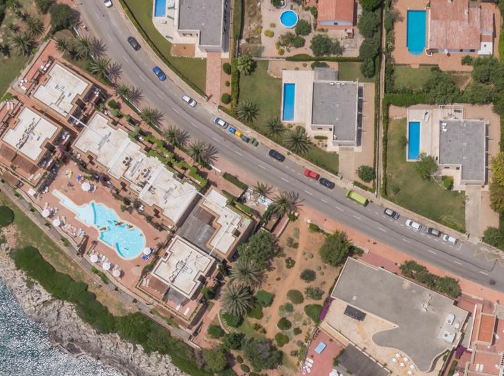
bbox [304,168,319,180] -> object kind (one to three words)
vehicle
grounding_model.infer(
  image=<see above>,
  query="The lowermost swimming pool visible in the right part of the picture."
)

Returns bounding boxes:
[405,120,421,161]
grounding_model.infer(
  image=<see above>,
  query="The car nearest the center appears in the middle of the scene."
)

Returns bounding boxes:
[267,149,286,162]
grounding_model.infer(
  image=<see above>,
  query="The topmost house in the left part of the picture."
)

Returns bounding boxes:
[178,0,225,50]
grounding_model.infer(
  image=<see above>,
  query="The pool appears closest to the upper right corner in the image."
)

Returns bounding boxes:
[405,8,428,57]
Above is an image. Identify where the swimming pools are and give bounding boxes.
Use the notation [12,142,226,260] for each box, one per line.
[405,8,428,57]
[152,0,167,18]
[49,187,148,261]
[281,82,297,122]
[279,9,299,30]
[405,120,421,161]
